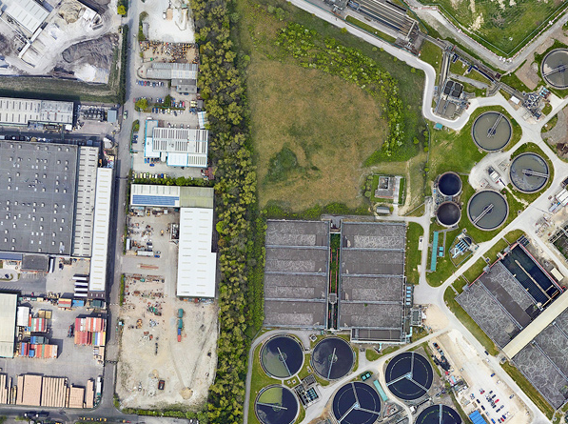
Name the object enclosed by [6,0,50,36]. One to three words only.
building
